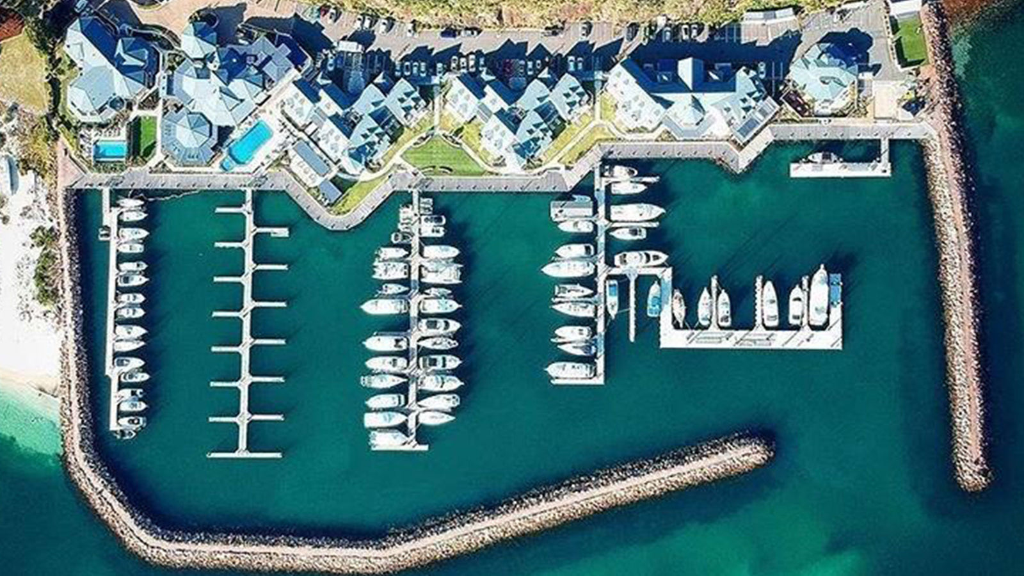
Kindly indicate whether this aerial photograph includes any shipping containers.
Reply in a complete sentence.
No, there is no shipping container in the image.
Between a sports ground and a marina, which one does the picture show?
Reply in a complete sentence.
What you see here is a marina.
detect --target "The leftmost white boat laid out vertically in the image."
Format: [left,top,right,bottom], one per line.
[607,279,619,319]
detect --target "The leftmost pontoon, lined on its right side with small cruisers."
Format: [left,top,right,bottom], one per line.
[103,190,145,433]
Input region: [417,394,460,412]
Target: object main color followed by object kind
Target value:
white boat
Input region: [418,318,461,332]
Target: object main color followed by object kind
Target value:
white boat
